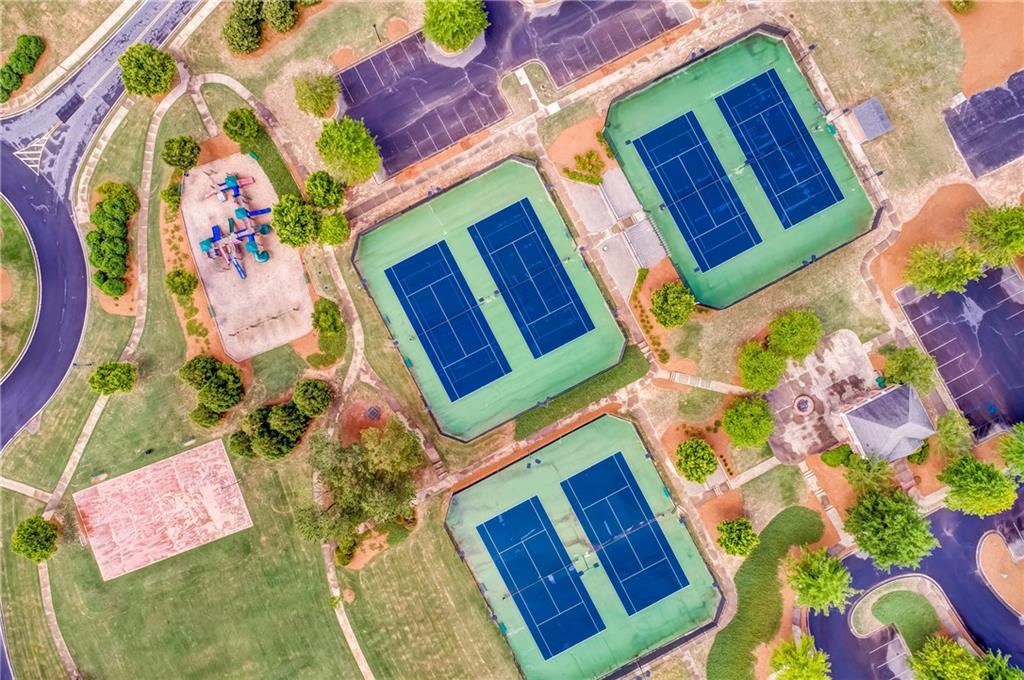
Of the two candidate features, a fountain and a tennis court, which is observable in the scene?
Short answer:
tennis court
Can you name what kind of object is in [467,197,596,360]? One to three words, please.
tennis court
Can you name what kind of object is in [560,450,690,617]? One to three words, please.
tennis court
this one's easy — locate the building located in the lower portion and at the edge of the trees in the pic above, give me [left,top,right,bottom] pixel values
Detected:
[834,384,935,461]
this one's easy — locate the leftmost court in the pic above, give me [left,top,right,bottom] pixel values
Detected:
[71,439,254,582]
